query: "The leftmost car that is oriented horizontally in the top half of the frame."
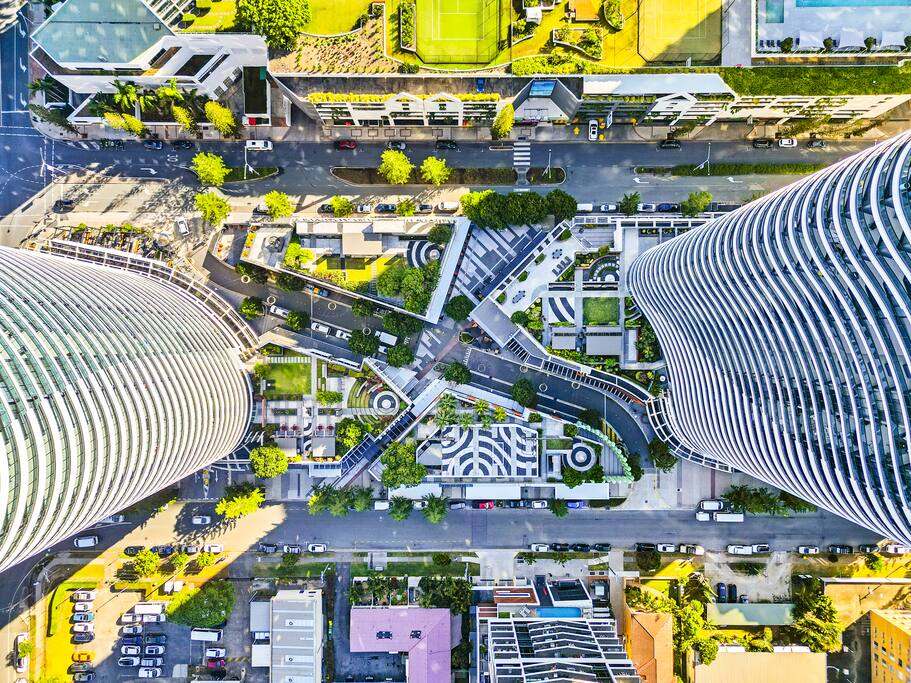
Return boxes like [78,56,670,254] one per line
[54,199,77,212]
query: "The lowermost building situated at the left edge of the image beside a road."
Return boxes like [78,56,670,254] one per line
[0,245,244,572]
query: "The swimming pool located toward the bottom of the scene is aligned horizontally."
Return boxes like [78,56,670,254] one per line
[533,606,582,618]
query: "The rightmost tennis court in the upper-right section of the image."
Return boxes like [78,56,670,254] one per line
[639,0,728,62]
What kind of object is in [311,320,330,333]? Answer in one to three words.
vehicle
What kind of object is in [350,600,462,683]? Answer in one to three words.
house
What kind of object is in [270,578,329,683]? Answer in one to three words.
building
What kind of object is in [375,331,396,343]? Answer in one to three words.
vehicle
